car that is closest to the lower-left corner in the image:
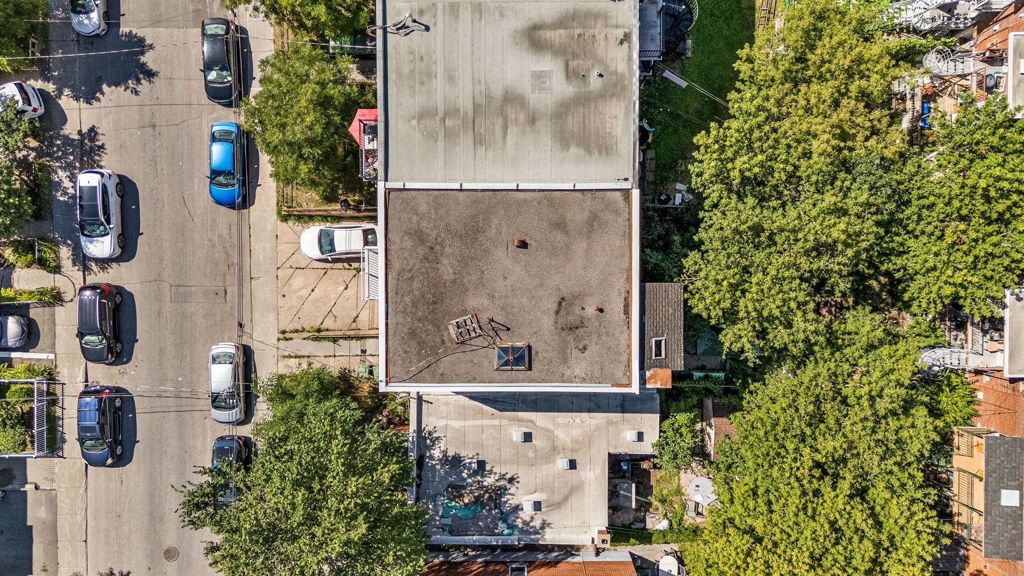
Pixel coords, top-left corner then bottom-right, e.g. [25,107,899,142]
[72,385,122,467]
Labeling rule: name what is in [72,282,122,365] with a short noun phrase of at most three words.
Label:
car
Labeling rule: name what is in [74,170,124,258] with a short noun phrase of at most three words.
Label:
car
